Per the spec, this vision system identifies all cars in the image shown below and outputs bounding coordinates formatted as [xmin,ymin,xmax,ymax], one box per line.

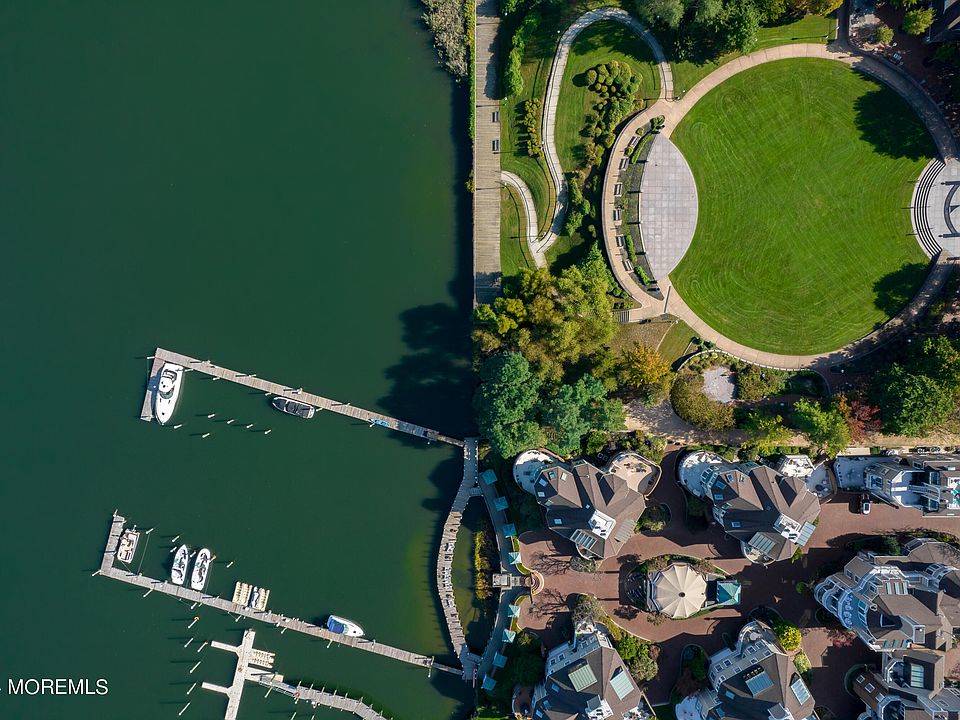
[860,492,872,512]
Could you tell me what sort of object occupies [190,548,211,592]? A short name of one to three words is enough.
boat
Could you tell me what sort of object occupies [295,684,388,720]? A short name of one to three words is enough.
pier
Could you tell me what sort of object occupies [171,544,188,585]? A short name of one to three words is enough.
boat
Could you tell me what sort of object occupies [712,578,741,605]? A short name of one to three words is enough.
building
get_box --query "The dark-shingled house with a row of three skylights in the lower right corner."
[844,640,960,720]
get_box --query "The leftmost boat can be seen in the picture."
[117,527,141,562]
